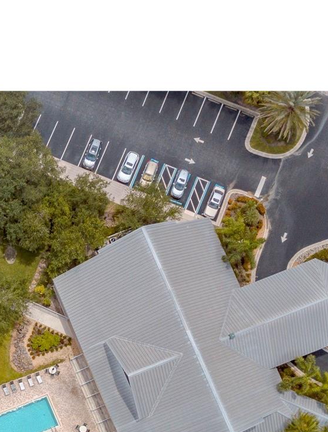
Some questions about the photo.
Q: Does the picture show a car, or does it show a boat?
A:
car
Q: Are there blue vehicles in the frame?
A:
No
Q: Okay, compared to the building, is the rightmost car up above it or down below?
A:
above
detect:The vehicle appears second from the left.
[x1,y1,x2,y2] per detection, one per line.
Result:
[118,149,140,184]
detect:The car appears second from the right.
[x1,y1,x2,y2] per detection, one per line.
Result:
[170,167,190,200]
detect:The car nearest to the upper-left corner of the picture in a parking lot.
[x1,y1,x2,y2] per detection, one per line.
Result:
[83,137,102,170]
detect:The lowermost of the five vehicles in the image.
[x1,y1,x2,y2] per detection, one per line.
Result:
[203,184,226,220]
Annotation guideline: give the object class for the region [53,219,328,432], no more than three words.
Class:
building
